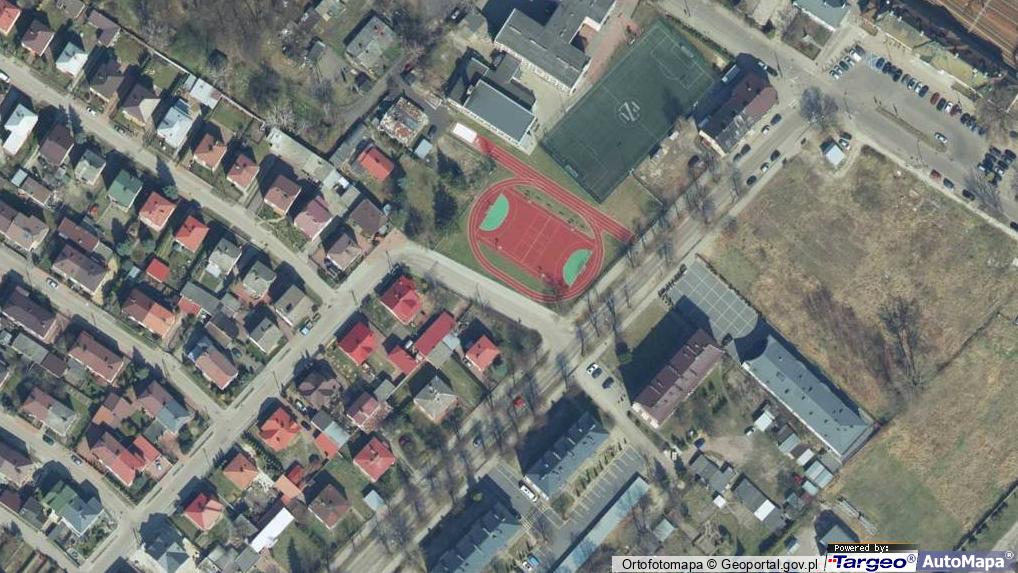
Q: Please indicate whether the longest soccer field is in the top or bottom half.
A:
top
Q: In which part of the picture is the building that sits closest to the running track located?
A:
top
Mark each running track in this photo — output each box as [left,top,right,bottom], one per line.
[468,134,635,298]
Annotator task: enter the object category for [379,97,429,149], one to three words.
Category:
building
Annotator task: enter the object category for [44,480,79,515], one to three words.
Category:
house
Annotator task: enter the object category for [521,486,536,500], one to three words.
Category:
vehicle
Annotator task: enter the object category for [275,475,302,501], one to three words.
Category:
shed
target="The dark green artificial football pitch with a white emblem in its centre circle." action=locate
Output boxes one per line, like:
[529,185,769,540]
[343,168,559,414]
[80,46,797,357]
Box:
[543,21,714,202]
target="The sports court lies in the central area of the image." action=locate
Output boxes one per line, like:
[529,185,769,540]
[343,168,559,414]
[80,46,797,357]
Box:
[476,190,596,286]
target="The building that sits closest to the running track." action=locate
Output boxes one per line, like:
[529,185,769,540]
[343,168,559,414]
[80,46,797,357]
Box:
[463,79,536,147]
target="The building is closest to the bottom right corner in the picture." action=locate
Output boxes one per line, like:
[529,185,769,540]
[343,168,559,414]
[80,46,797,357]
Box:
[819,523,858,562]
